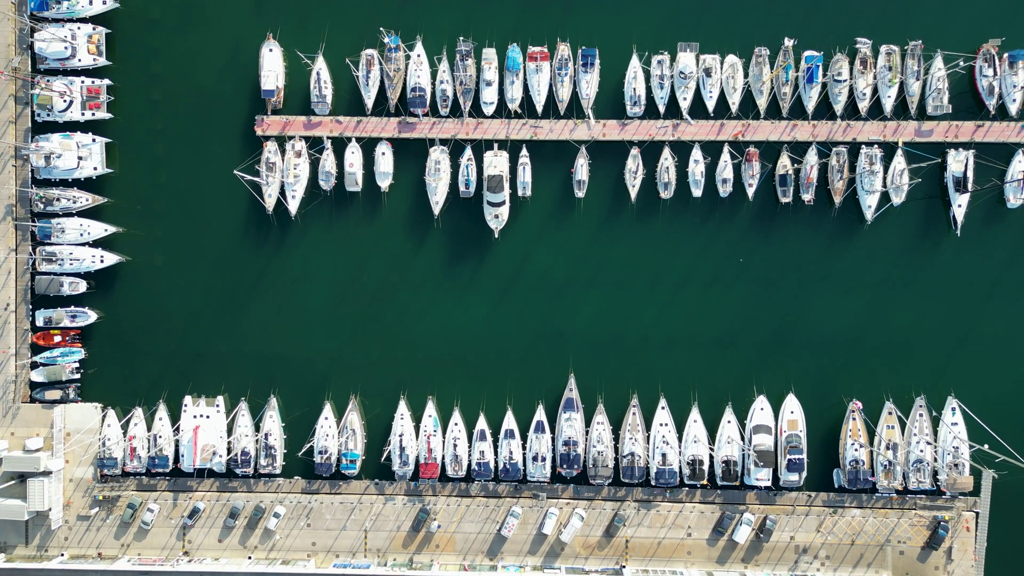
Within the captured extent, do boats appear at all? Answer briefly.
Yes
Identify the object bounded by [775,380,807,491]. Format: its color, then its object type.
white boat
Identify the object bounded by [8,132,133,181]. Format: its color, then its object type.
white boat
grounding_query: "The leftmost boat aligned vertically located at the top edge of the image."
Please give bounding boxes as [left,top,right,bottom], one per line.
[258,28,286,115]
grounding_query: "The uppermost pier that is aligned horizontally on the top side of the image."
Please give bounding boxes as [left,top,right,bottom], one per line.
[255,115,1024,144]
